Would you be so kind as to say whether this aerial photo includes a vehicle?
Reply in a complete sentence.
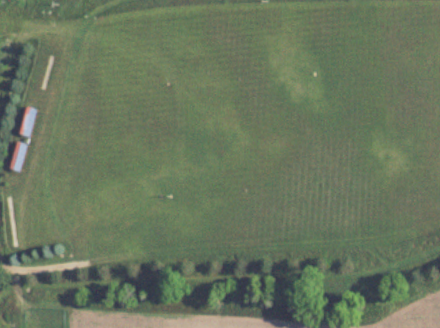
No, the picture doesn't show any vehicle.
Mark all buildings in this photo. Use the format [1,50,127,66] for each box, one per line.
[20,108,36,136]
[10,142,26,171]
